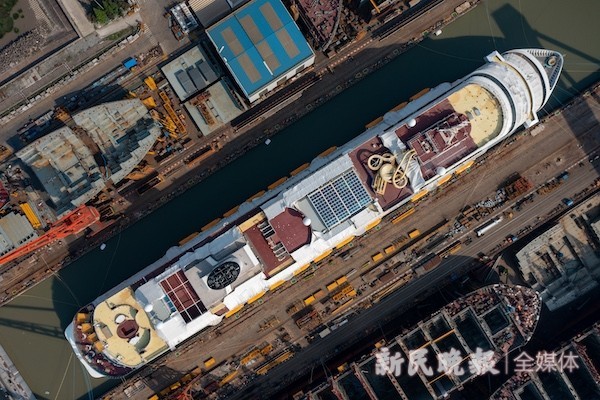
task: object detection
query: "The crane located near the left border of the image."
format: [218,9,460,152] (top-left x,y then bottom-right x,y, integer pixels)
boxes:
[0,199,117,264]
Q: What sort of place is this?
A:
port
